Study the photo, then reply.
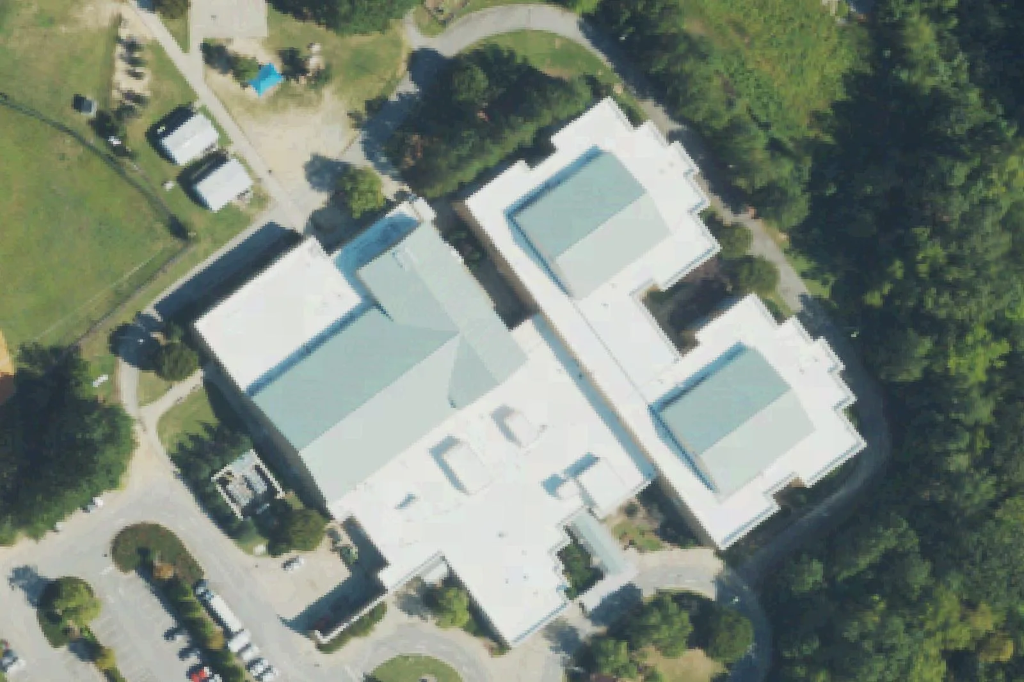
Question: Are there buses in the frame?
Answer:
Yes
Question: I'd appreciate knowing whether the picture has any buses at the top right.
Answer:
No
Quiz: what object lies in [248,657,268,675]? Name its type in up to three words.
car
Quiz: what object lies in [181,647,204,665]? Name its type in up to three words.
car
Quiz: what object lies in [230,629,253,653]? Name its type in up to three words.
vehicle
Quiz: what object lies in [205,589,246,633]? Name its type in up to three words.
bus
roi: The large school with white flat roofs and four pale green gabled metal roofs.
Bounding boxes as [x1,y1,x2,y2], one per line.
[184,94,867,646]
